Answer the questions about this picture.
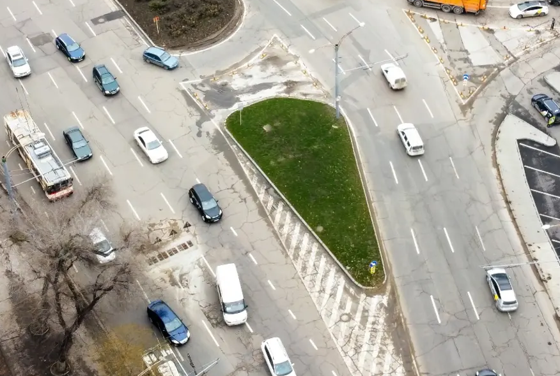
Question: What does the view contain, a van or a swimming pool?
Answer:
van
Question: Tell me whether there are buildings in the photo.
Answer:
No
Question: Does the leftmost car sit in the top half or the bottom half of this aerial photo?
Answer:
top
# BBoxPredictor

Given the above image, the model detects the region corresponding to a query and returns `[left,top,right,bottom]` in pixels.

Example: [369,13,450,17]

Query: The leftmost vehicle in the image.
[7,47,30,77]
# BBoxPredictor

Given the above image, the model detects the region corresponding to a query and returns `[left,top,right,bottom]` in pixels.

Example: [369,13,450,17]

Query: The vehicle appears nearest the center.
[189,182,223,224]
